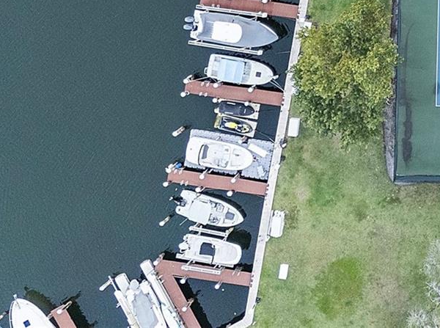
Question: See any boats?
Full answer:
Yes, a boat appears in the view.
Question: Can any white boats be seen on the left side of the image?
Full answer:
Yes, a white boat is visible on the left side of the image.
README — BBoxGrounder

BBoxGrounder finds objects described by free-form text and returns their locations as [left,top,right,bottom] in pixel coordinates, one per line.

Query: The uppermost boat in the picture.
[182,9,278,46]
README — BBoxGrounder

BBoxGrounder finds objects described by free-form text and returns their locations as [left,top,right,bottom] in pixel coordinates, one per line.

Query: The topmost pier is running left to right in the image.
[201,0,298,18]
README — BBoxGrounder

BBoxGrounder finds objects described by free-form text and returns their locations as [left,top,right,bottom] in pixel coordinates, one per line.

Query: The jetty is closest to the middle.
[167,171,268,195]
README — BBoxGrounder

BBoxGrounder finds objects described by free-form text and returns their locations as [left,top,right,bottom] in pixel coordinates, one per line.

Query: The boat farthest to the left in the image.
[10,296,66,328]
